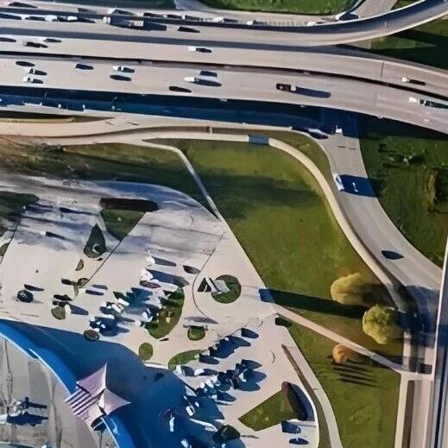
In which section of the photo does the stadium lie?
bottom left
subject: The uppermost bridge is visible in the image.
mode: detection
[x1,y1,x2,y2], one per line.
[0,0,448,50]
